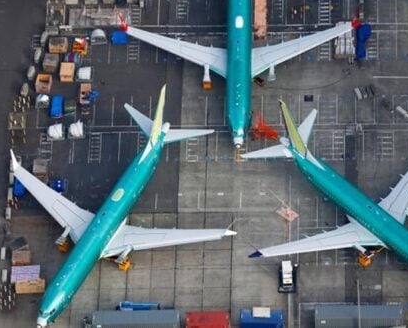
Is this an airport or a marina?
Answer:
airport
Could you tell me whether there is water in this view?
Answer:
No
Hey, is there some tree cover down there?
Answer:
No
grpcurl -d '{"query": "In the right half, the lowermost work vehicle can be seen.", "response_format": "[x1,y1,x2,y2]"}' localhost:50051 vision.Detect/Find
[278,263,297,295]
